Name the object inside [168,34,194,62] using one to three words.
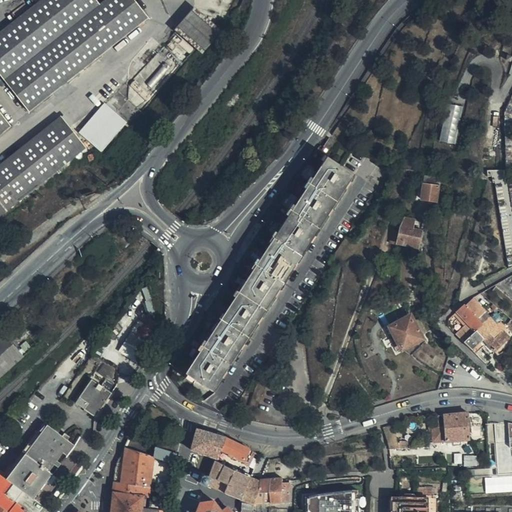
building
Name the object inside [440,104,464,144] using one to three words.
greenhouse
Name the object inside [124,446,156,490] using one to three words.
house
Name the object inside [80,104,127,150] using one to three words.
building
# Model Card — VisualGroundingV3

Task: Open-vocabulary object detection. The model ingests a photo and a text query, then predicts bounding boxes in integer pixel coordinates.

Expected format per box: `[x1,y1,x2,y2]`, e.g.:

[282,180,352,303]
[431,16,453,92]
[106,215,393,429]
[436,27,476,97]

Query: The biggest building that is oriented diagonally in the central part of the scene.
[186,157,355,392]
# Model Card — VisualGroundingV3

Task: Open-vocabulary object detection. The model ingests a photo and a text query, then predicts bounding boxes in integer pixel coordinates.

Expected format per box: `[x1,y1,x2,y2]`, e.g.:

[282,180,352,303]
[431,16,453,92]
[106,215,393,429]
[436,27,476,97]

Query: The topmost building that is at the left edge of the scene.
[0,0,148,113]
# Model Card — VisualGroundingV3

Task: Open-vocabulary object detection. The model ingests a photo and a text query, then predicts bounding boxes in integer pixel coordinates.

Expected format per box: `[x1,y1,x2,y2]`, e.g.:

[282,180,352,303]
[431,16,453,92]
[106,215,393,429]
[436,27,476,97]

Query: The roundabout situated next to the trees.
[168,227,237,296]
